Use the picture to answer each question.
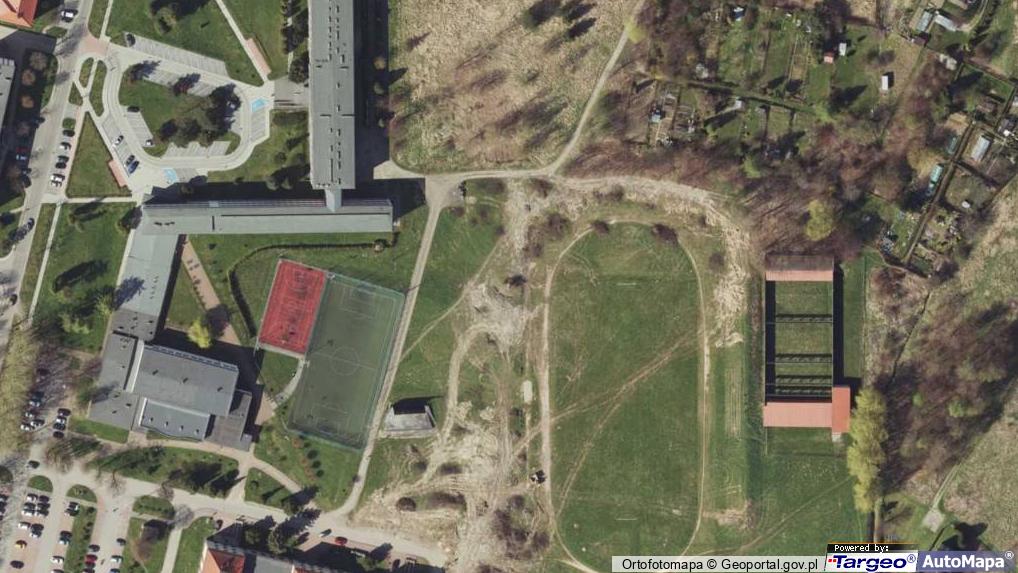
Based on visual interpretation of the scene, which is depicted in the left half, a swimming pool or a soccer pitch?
soccer pitch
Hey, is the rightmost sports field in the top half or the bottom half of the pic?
bottom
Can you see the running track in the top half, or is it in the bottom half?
bottom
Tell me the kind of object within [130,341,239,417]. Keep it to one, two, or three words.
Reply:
building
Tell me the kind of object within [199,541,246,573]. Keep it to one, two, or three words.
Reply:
house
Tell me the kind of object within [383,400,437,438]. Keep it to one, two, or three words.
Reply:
building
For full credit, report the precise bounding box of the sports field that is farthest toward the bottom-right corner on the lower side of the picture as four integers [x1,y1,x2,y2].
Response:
[551,227,702,570]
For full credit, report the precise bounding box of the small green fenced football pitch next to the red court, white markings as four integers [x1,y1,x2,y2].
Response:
[285,274,405,450]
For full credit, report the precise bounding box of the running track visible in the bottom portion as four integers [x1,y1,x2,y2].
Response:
[541,217,712,573]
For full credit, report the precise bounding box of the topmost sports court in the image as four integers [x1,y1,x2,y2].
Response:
[256,259,328,360]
